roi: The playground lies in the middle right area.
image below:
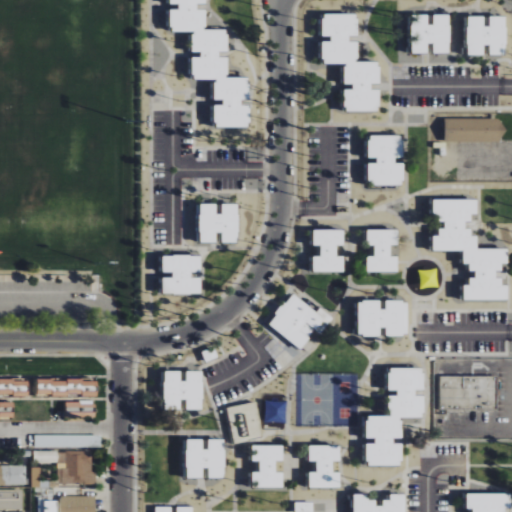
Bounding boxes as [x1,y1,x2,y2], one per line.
[406,260,442,296]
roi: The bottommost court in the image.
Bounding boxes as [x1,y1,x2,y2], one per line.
[296,374,358,426]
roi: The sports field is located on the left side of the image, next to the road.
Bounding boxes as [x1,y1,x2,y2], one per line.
[0,0,141,330]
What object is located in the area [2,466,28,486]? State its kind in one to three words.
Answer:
house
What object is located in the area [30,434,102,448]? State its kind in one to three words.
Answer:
building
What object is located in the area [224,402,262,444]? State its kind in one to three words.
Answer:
building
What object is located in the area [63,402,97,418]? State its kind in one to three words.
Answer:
house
